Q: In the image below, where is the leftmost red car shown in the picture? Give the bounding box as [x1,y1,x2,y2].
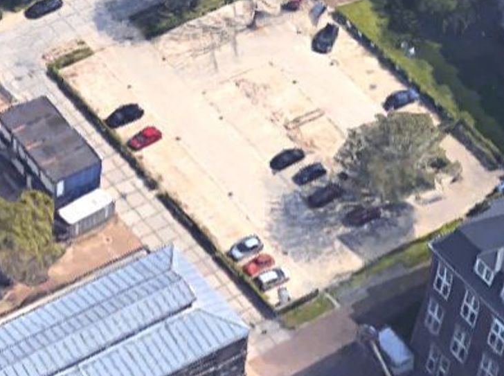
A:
[125,121,166,152]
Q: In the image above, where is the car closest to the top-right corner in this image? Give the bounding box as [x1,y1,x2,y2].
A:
[378,84,426,114]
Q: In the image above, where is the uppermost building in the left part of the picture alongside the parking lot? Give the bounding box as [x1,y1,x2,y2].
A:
[0,96,104,221]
